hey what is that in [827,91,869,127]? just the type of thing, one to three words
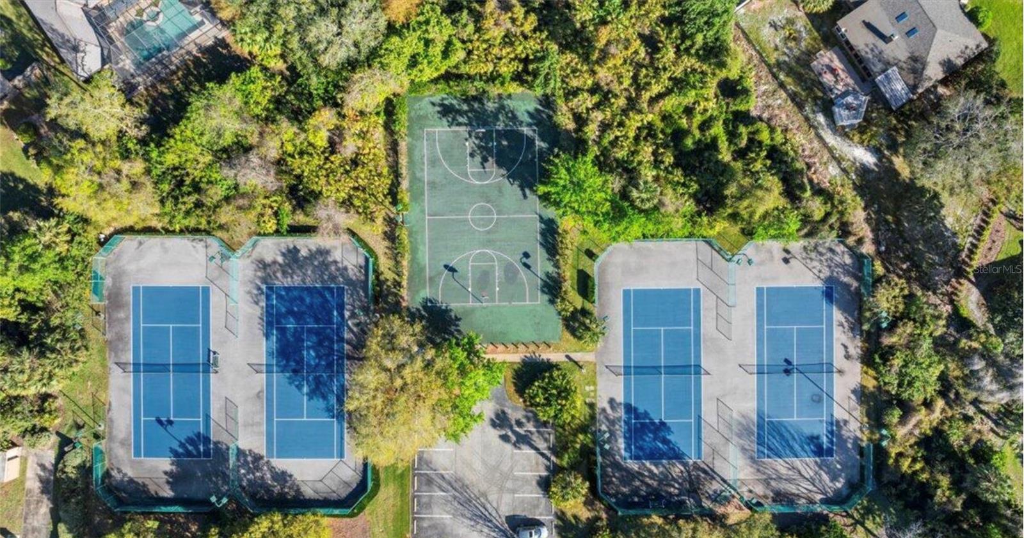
gazebo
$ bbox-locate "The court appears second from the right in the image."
[593,242,725,507]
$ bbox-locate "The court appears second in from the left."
[238,239,376,507]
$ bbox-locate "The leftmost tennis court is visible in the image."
[105,240,237,507]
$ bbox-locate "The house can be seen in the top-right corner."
[833,0,988,95]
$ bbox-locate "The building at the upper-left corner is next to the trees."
[24,0,102,80]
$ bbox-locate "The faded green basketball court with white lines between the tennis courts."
[408,92,562,344]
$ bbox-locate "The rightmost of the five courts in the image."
[725,242,862,506]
